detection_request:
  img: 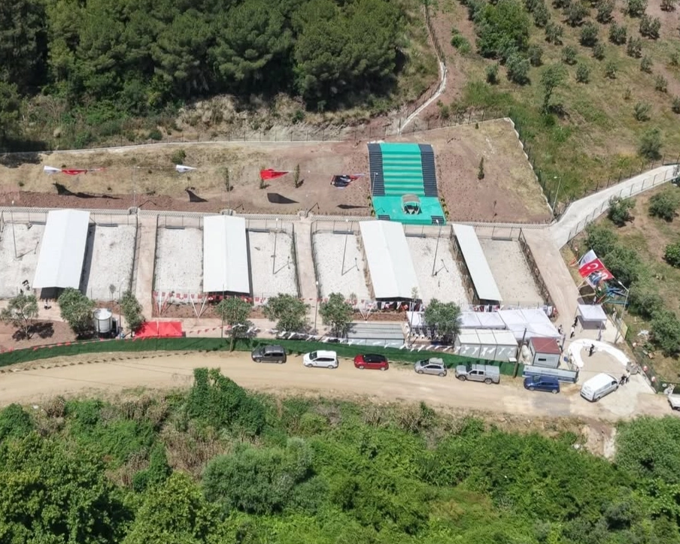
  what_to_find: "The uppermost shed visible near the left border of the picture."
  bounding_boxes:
[33,208,90,307]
